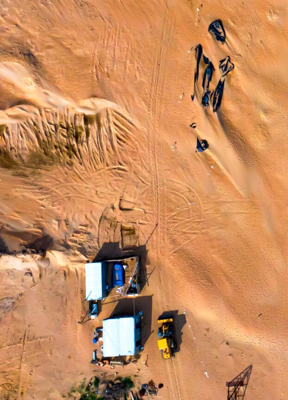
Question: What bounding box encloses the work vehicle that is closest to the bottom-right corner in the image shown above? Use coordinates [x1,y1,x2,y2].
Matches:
[158,309,177,358]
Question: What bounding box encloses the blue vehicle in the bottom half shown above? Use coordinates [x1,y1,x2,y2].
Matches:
[111,261,126,287]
